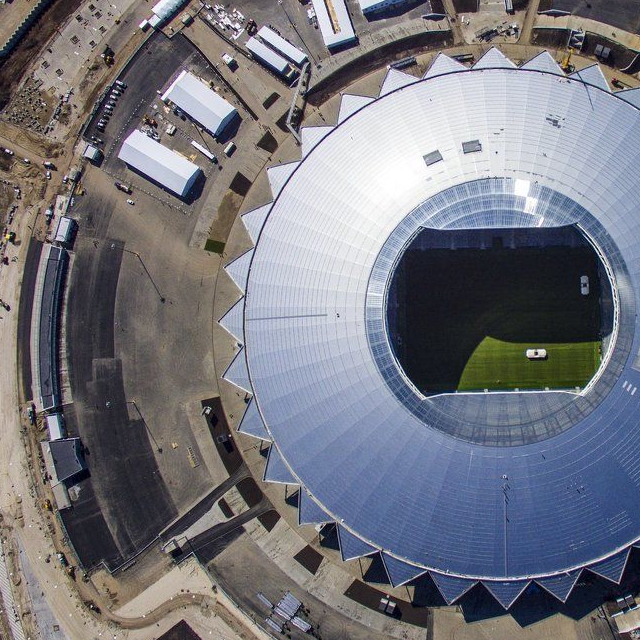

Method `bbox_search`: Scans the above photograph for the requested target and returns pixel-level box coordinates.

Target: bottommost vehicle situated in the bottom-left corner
[82,603,99,617]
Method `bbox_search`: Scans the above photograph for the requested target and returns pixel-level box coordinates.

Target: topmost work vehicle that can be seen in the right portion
[608,73,625,87]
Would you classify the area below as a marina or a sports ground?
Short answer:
sports ground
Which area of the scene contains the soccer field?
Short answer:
right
